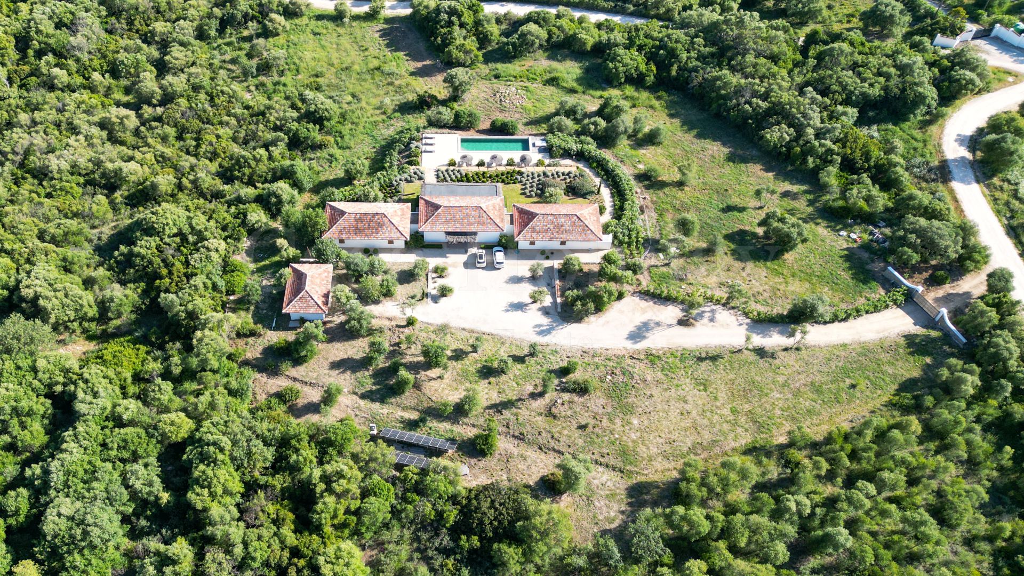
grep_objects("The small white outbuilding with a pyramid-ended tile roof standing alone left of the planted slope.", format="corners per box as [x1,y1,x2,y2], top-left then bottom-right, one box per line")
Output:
[282,263,332,322]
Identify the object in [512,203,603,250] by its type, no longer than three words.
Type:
house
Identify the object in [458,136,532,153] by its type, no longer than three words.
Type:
swimming pool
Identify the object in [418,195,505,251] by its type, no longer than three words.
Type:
house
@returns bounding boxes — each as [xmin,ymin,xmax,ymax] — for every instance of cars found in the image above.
[492,248,505,269]
[474,250,487,269]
